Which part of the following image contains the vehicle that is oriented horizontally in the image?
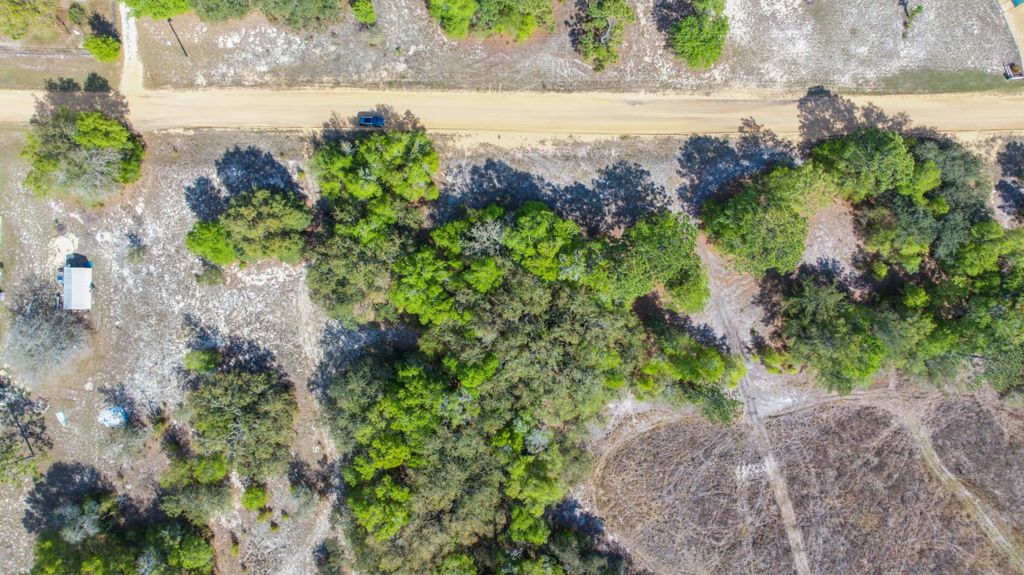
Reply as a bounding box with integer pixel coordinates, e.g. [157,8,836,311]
[357,114,384,127]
